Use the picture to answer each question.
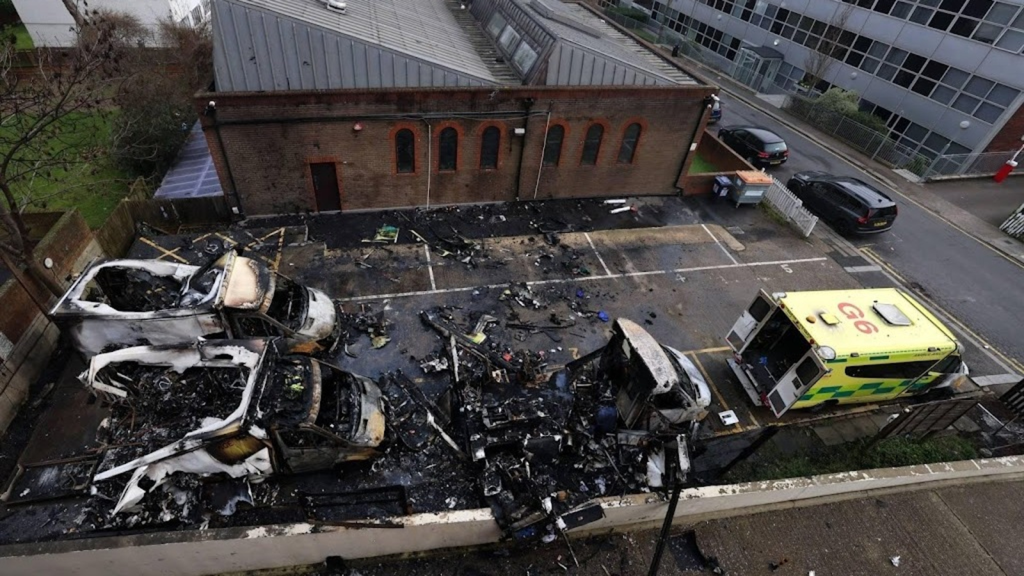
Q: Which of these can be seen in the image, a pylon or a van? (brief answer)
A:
van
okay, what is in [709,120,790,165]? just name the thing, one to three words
car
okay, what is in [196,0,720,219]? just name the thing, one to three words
building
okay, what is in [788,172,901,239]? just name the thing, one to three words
car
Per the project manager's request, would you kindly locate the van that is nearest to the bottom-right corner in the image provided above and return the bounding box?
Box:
[724,286,977,419]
